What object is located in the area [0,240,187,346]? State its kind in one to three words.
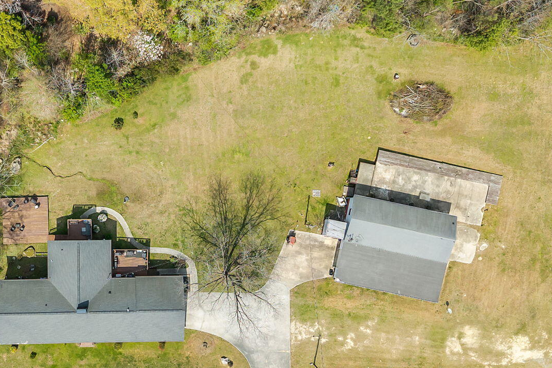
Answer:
house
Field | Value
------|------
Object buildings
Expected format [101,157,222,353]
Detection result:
[332,194,457,303]
[0,240,187,346]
